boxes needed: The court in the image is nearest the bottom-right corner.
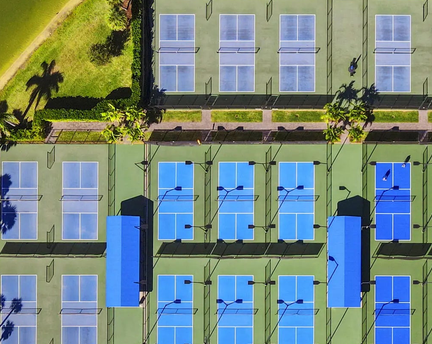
[375,276,411,344]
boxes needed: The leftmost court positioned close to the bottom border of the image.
[1,275,37,344]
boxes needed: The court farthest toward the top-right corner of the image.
[376,15,411,92]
